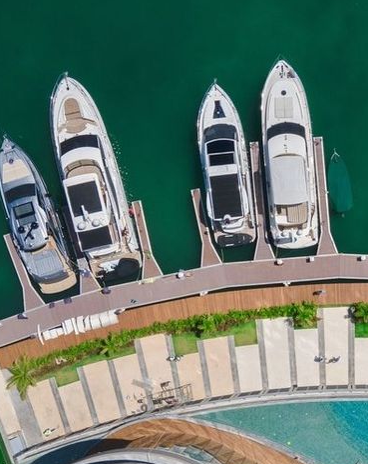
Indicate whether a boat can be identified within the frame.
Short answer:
Yes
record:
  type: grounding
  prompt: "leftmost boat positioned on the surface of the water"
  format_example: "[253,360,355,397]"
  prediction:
[0,132,80,297]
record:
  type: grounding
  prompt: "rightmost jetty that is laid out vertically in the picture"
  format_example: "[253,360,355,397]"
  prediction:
[314,137,338,255]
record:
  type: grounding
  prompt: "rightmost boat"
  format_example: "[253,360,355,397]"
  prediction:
[261,51,320,251]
